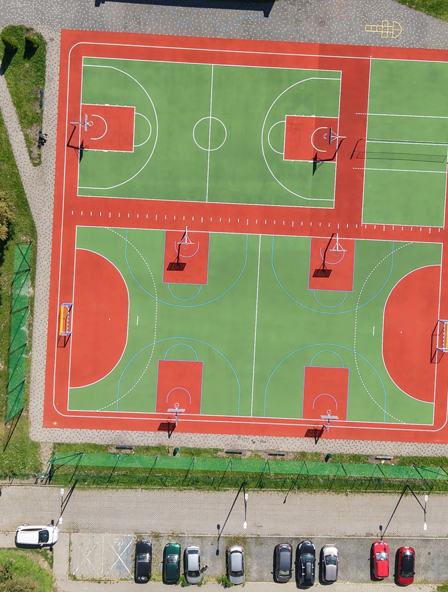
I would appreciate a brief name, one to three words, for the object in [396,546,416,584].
car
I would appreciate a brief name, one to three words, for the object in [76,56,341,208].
basketball court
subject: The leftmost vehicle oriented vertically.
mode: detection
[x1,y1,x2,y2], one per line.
[132,541,153,582]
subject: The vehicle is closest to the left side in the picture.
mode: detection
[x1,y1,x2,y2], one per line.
[16,525,58,548]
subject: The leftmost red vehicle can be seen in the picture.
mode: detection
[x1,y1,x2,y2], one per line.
[372,539,391,579]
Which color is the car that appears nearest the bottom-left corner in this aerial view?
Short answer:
white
